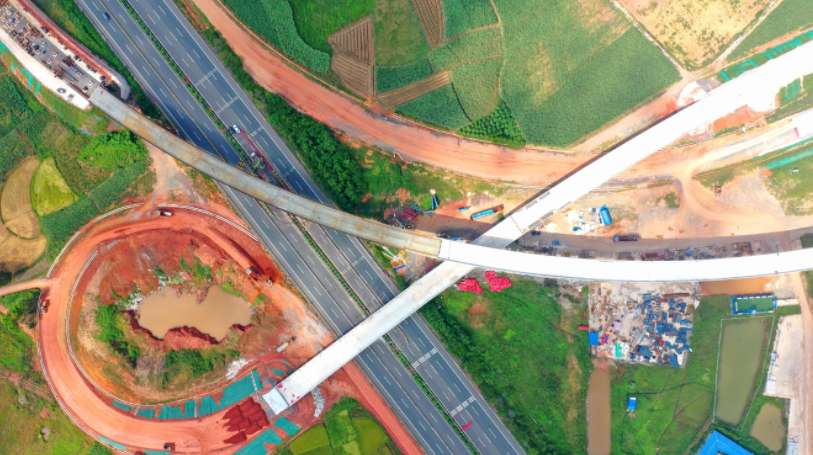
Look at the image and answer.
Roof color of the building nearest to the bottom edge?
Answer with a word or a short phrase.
blue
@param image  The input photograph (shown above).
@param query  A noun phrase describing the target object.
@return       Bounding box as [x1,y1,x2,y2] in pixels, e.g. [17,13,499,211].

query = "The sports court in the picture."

[731,293,777,316]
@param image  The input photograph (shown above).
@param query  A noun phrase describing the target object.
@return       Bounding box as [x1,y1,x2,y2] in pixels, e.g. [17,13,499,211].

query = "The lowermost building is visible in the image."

[690,426,759,455]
